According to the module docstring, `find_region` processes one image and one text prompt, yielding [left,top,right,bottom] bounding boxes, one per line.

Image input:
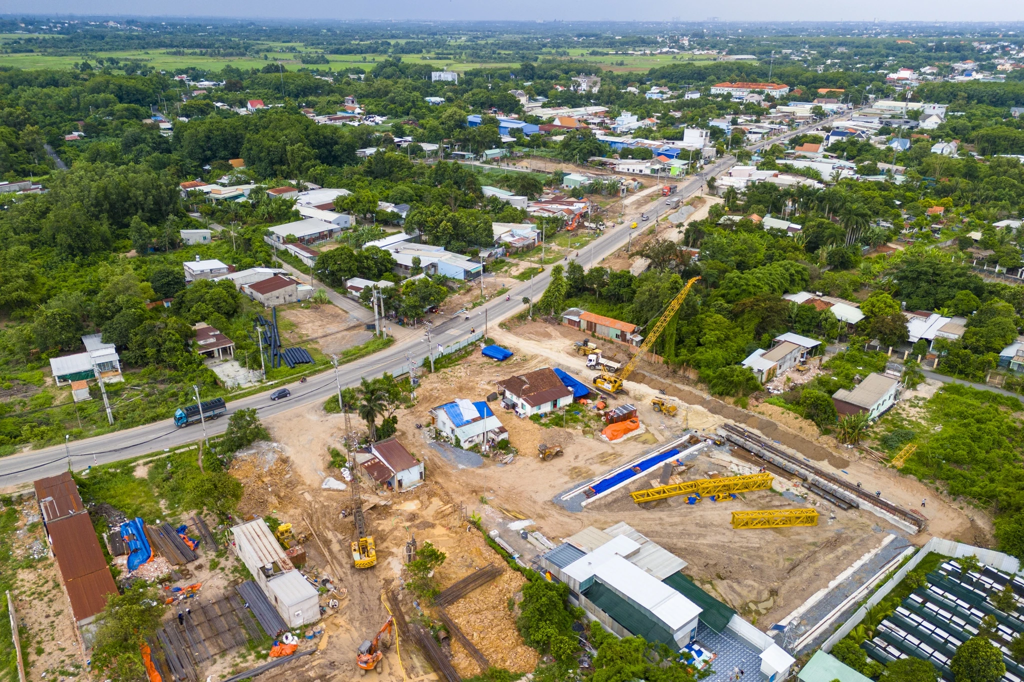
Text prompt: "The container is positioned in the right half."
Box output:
[605,402,639,427]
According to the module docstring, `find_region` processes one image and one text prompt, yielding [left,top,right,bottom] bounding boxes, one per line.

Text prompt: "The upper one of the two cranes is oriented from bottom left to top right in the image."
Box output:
[590,279,707,400]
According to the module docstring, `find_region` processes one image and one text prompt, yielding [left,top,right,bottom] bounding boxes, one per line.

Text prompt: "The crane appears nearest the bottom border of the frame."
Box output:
[342,404,378,567]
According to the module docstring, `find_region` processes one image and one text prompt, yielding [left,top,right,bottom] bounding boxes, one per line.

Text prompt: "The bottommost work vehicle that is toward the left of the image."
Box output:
[352,613,395,681]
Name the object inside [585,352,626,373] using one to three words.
truck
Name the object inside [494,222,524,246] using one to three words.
house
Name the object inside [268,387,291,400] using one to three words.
vehicle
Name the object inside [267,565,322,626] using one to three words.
building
